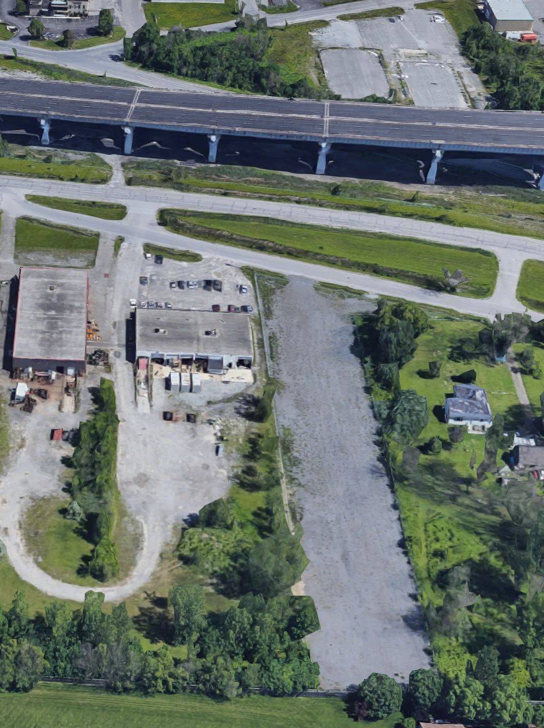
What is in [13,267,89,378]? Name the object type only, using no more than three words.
building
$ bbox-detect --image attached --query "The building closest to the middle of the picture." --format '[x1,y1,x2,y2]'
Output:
[134,306,254,374]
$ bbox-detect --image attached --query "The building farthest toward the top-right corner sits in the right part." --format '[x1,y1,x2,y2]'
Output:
[480,0,534,35]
